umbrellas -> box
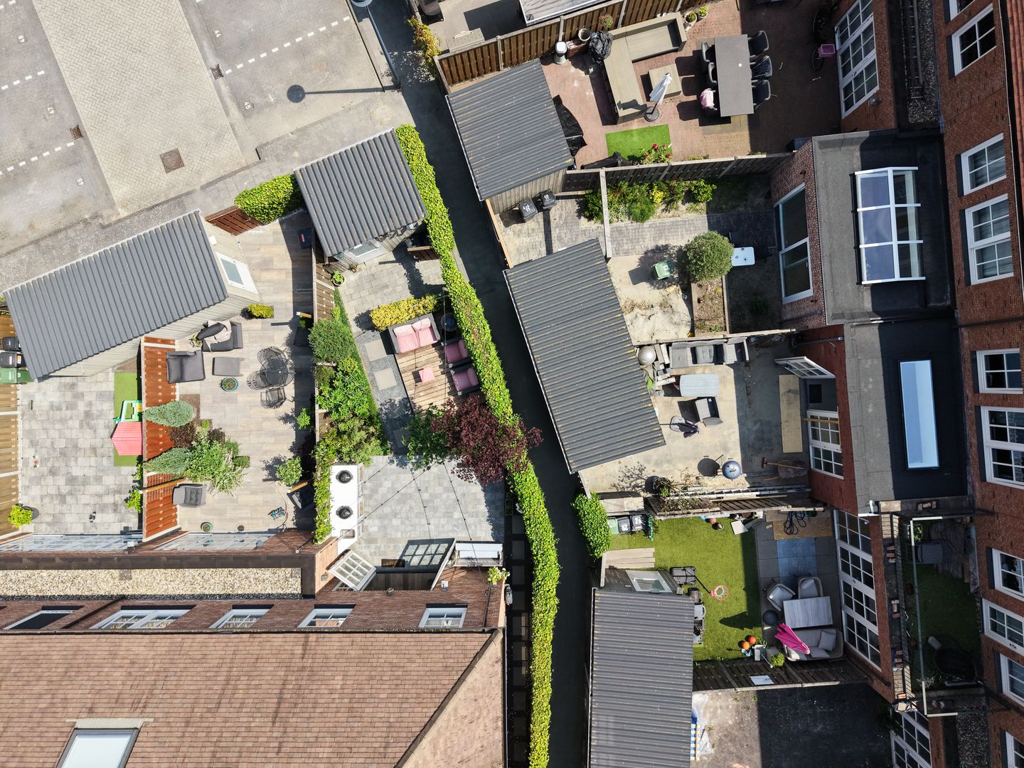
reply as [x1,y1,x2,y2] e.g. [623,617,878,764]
[771,617,811,654]
[645,80,671,122]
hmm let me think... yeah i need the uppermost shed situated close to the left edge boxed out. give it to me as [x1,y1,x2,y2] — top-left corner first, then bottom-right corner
[2,208,257,379]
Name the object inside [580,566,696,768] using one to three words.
shed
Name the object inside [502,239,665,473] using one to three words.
shed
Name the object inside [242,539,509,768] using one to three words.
house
